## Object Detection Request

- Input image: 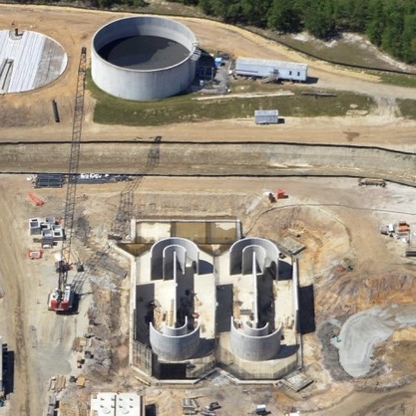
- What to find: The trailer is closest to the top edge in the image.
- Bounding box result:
[234,56,308,84]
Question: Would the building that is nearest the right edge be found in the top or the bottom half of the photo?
top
